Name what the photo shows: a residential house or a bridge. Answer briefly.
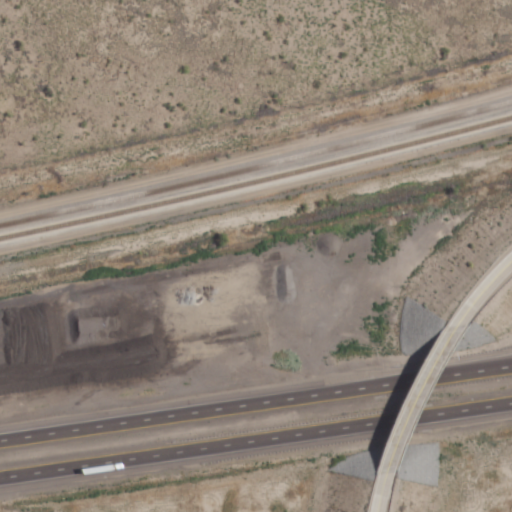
bridge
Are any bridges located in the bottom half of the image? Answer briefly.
Yes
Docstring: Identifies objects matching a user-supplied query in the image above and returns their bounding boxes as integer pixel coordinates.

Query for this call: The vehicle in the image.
[82,462,125,474]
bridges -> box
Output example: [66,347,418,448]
[371,279,496,504]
